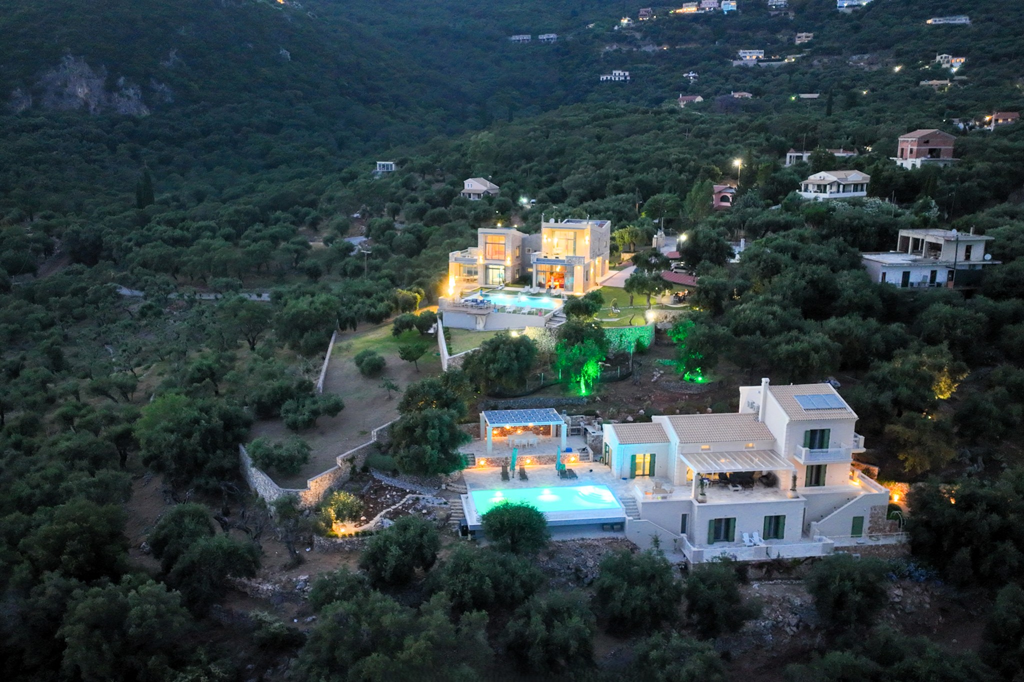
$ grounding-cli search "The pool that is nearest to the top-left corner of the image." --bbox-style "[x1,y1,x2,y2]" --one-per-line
[447,292,570,310]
